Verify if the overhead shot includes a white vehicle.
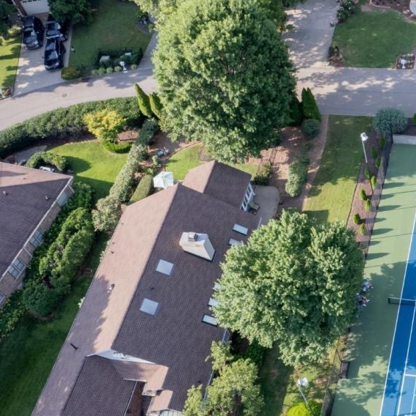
No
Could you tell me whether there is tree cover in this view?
Yes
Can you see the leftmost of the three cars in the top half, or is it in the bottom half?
top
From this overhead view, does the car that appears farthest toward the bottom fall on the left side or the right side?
left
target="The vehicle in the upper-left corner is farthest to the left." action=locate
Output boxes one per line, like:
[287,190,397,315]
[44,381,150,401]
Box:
[19,16,44,52]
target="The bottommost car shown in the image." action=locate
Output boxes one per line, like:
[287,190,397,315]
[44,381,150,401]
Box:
[42,38,66,71]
